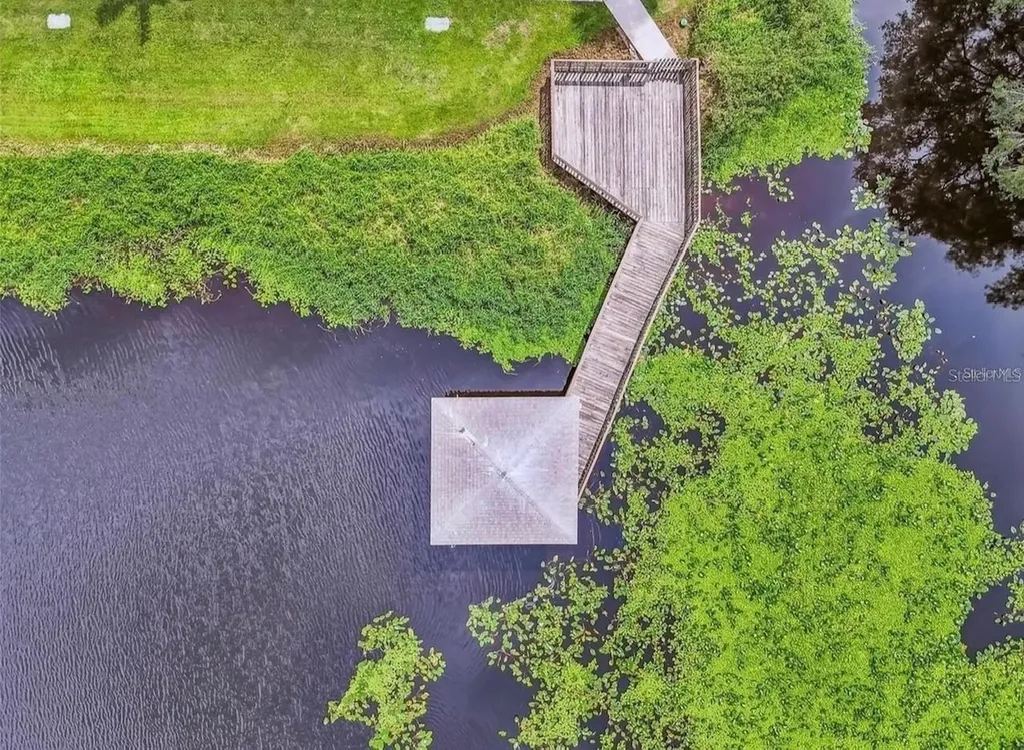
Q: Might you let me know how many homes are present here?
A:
zero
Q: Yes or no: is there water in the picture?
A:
Yes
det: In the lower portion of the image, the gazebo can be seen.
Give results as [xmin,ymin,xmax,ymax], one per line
[431,396,580,546]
